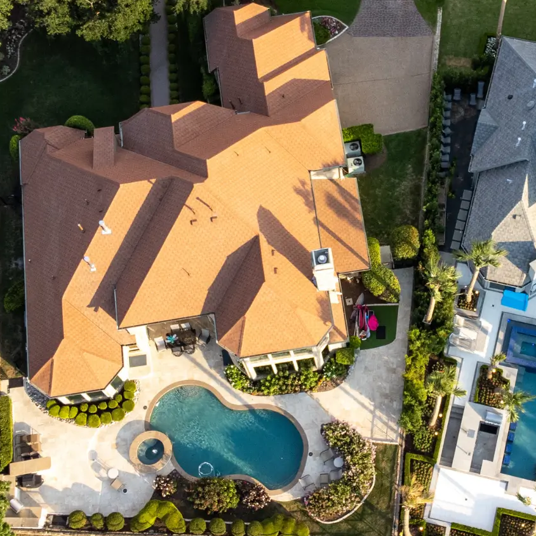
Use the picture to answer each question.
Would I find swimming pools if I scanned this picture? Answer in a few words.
Yes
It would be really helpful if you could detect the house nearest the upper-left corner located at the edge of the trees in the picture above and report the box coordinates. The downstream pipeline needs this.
[19,2,370,403]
